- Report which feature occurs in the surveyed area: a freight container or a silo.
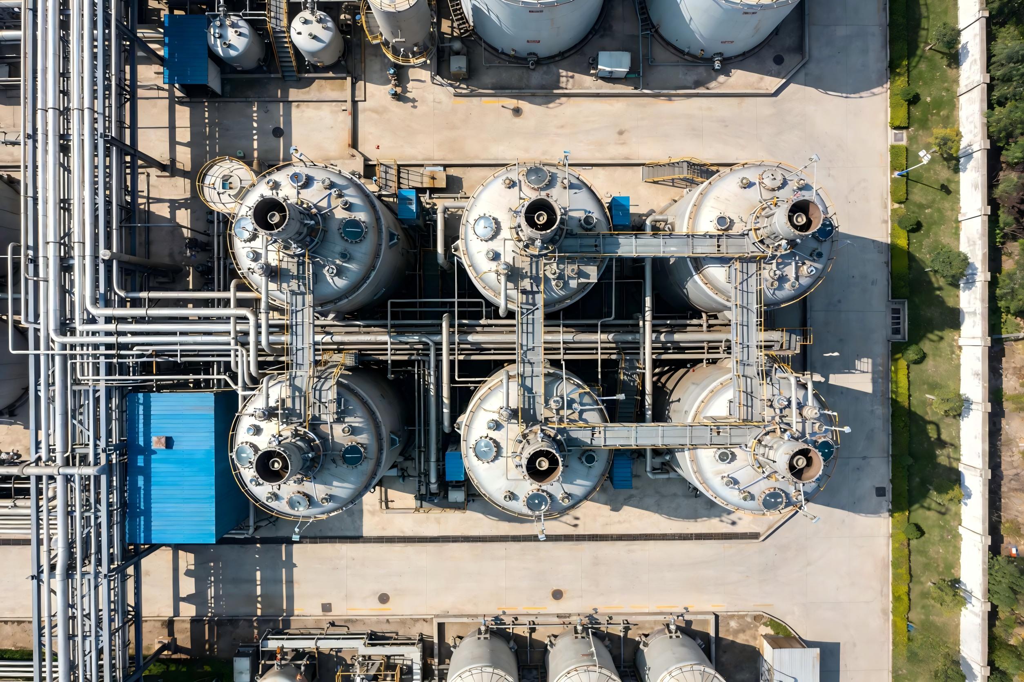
silo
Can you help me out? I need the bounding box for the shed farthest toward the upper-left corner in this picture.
[164,14,221,95]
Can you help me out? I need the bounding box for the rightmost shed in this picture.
[760,633,820,682]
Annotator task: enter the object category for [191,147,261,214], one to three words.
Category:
silo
